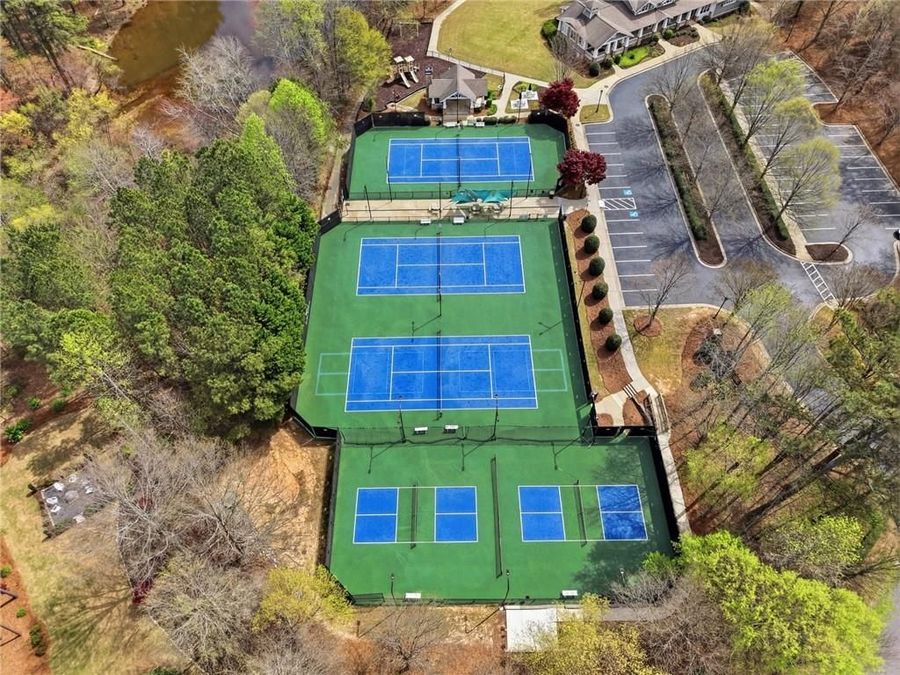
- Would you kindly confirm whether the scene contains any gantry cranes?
No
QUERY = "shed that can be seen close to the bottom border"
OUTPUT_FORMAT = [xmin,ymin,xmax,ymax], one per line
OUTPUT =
[506,605,560,654]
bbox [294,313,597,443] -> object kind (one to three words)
tennis court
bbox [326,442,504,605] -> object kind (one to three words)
sports court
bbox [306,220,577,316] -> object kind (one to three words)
tennis court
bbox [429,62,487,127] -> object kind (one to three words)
building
